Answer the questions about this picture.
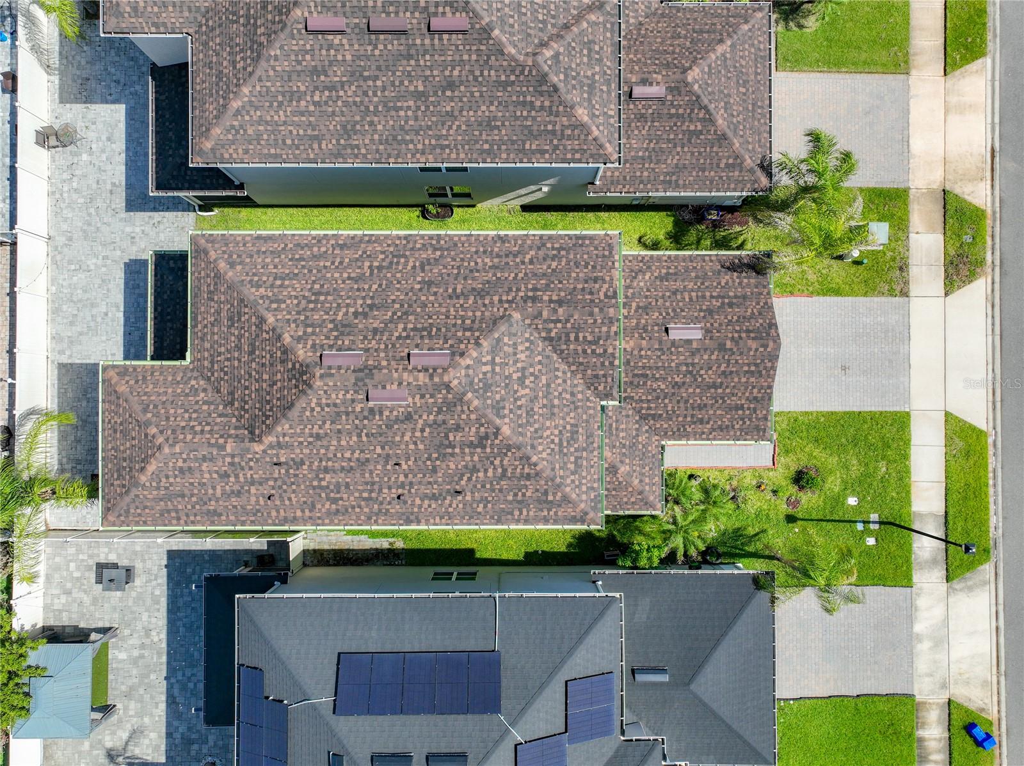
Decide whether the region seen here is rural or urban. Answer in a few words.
urban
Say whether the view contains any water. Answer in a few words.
No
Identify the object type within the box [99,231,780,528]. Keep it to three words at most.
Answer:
house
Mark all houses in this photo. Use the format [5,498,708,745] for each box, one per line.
[100,0,772,214]
[99,231,780,528]
[192,550,776,766]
